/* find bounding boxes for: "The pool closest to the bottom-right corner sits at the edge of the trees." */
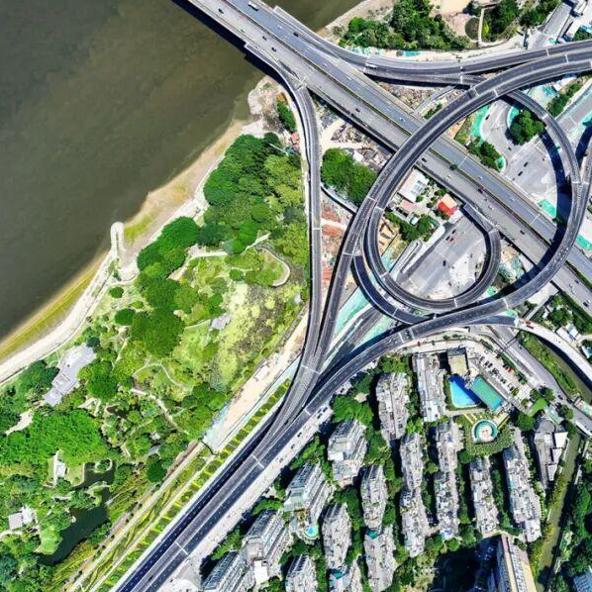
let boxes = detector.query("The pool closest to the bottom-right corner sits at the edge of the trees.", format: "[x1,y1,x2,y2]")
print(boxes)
[472,419,498,444]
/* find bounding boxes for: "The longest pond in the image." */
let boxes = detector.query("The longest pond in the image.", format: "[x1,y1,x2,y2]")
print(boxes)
[37,459,116,564]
